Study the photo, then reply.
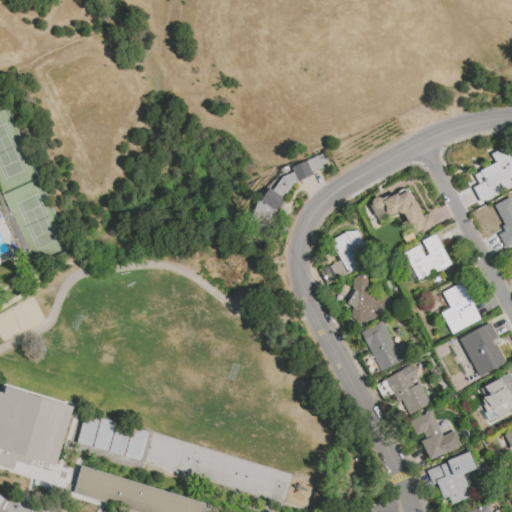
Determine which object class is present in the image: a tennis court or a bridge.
tennis court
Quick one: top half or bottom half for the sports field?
bottom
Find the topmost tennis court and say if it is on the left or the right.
left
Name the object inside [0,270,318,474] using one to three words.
sports field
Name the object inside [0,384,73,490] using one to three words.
building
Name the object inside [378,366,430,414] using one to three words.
house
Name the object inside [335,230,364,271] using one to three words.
house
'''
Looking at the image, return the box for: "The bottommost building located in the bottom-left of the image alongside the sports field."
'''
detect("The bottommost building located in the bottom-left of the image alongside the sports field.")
[71,466,206,512]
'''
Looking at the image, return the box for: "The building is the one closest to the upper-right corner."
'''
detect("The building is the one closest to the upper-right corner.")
[474,150,512,200]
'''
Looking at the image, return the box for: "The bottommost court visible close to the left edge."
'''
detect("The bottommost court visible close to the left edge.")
[0,296,45,342]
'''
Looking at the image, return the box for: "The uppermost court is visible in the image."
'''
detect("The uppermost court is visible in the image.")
[0,109,35,193]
